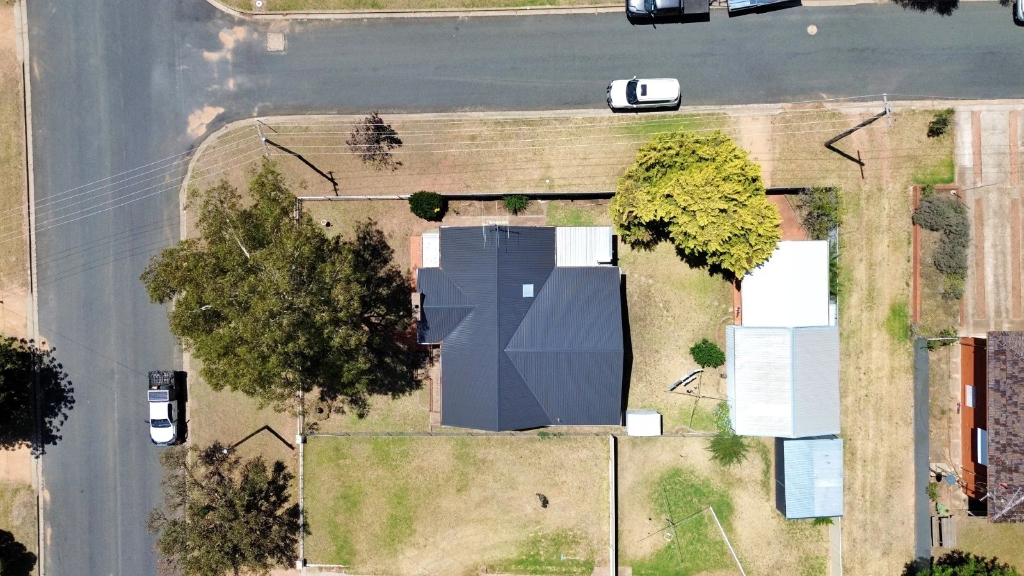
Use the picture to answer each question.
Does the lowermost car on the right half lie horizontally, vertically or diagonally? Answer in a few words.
horizontally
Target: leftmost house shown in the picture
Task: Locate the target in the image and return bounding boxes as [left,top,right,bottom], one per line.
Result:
[412,223,625,433]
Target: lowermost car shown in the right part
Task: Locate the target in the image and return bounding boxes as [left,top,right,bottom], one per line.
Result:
[606,76,679,110]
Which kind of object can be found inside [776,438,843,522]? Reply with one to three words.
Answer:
shed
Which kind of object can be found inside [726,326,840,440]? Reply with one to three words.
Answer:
shed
